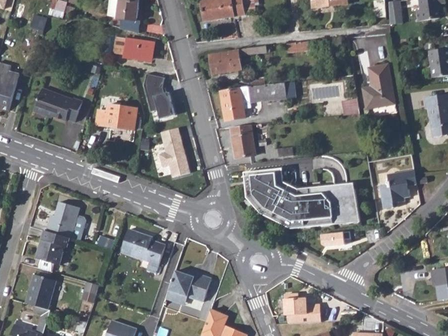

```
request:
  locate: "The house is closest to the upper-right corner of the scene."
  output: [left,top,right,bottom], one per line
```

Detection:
[416,0,442,23]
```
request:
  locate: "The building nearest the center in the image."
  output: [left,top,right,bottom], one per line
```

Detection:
[229,125,256,161]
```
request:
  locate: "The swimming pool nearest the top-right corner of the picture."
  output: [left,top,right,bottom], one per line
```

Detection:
[310,85,340,100]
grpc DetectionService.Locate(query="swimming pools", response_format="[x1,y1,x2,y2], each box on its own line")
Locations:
[310,85,340,100]
[157,326,169,336]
